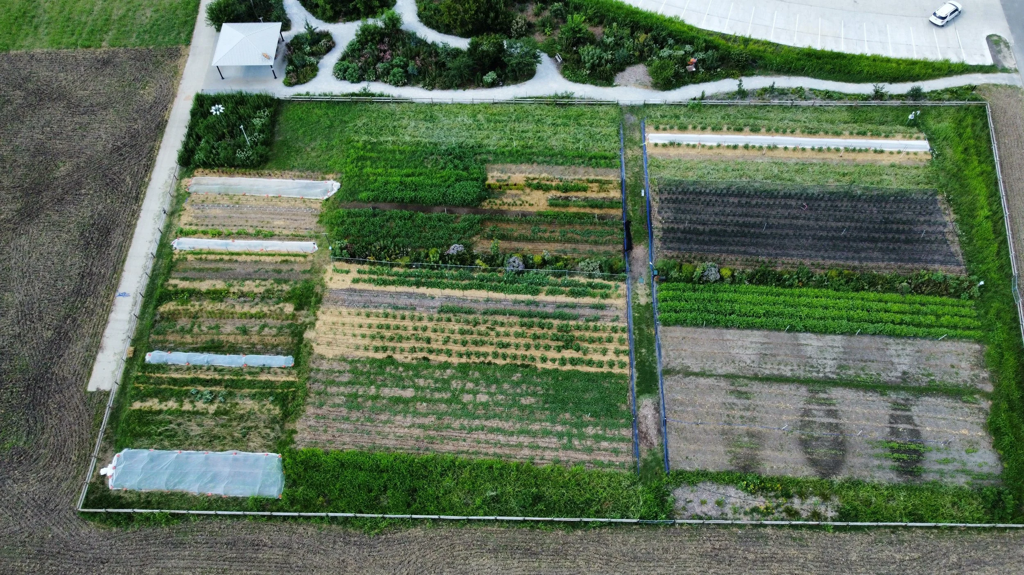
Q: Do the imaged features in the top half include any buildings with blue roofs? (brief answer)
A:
No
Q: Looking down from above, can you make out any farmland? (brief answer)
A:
Yes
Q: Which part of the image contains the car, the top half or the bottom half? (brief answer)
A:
top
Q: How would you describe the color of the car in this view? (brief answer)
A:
white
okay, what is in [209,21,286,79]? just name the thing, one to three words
building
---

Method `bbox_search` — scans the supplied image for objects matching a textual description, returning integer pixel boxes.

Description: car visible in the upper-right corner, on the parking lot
[932,0,964,25]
